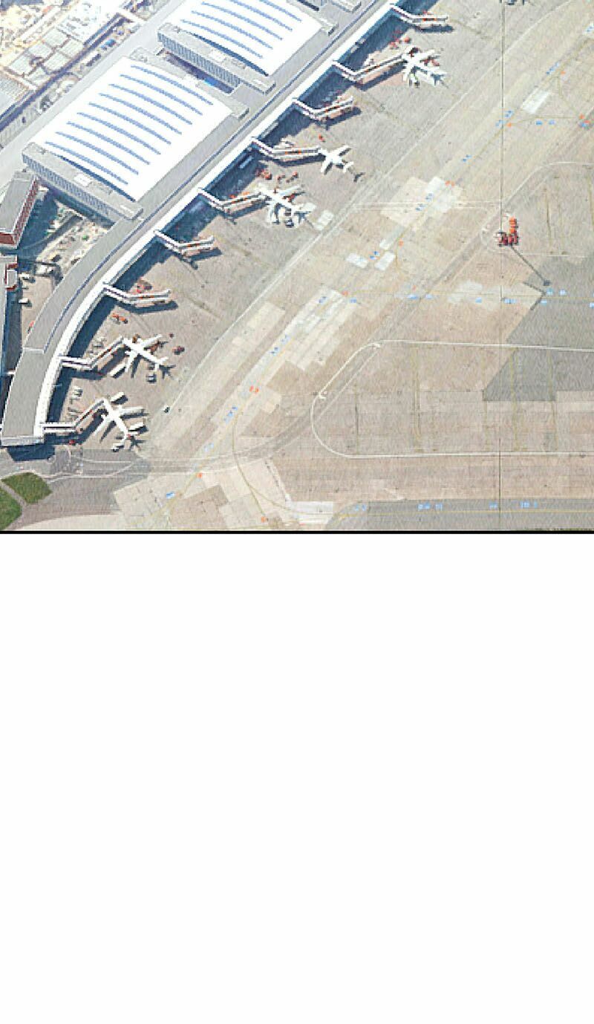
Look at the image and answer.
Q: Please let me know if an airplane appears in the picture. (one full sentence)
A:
Yes, I can see an airplane in this picture.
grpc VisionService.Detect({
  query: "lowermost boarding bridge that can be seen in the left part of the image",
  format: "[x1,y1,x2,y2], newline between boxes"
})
[44,399,108,438]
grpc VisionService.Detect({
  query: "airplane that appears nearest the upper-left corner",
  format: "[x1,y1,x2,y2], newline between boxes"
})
[258,187,305,220]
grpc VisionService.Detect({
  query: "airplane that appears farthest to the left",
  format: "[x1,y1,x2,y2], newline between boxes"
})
[95,399,145,440]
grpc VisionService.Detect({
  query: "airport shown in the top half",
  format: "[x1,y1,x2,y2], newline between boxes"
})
[0,0,594,531]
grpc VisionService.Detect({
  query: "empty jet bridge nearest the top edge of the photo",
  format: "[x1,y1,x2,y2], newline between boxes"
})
[391,7,449,31]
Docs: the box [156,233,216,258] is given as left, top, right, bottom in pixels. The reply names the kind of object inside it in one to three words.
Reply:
jet bridge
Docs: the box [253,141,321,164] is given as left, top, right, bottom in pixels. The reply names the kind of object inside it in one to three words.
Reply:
jet bridge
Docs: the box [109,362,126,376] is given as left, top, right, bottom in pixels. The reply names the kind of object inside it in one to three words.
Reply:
vehicle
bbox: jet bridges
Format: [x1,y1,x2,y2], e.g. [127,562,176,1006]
[199,193,265,216]
[253,141,321,164]
[334,56,405,84]
[391,7,449,31]
[156,233,216,258]
[293,99,355,125]
[63,337,126,372]
[104,287,172,308]
[44,399,108,438]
